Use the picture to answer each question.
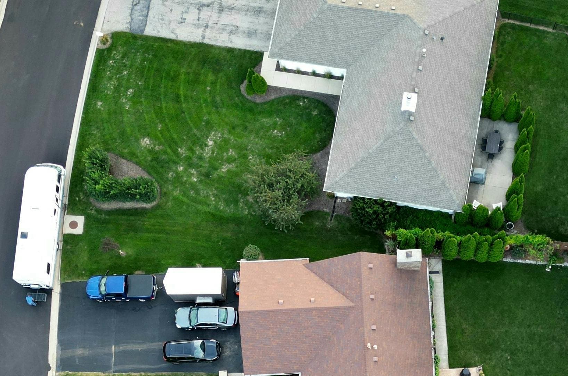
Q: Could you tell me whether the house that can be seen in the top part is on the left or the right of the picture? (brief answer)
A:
right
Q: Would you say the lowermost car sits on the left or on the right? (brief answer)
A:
left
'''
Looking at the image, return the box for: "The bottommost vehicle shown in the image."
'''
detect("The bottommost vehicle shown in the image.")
[164,336,223,366]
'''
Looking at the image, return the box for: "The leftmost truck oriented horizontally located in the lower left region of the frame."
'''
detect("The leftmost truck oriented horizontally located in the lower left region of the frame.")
[87,268,160,303]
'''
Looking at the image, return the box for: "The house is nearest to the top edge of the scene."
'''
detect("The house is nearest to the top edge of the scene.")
[266,0,501,219]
